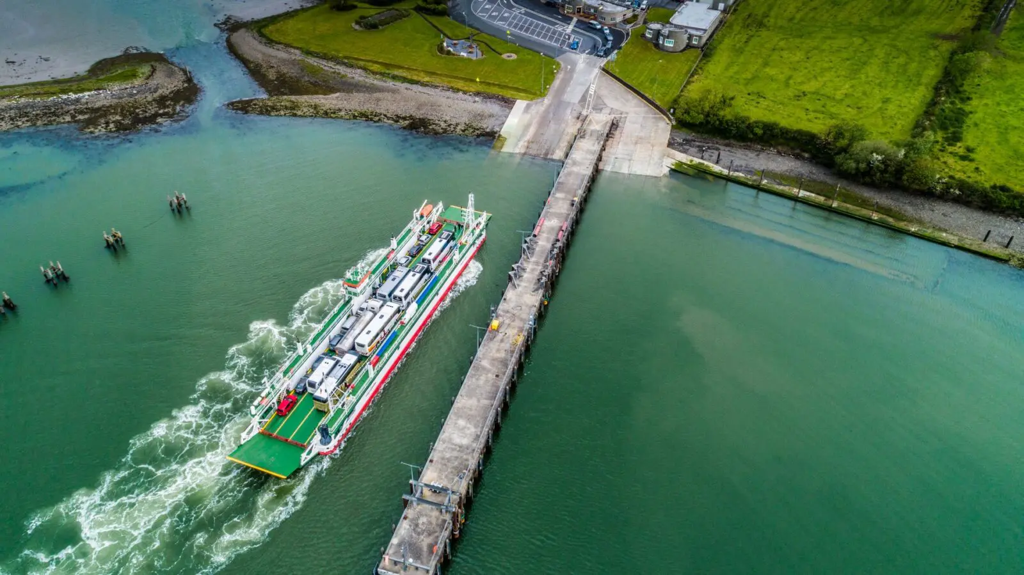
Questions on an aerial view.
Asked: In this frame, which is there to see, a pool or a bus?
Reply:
bus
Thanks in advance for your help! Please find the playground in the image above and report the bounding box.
[437,38,485,59]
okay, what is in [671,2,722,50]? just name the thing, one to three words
building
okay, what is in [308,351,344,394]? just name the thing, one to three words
bus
